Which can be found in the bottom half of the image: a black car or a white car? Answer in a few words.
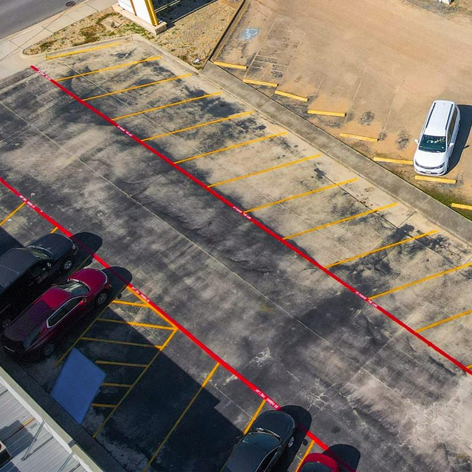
black car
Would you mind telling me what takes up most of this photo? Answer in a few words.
paved ground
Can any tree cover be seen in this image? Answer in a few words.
No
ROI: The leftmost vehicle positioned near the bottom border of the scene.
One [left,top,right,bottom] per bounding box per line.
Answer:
[200,403,291,472]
